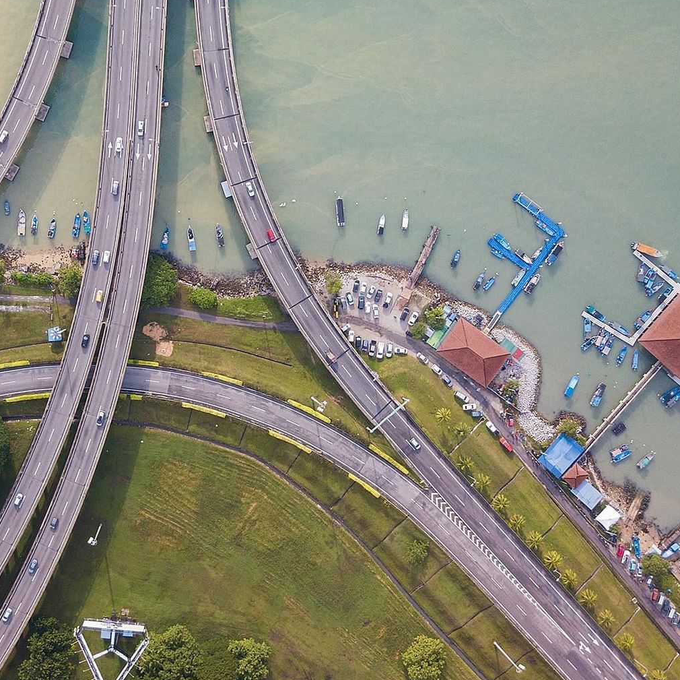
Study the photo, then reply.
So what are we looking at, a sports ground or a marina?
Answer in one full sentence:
This looks like a marina.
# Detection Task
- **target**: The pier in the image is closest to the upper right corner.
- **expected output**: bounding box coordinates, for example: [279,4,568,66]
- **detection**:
[489,194,567,314]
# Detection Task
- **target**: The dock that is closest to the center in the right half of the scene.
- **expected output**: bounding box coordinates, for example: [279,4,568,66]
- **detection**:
[408,226,439,286]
